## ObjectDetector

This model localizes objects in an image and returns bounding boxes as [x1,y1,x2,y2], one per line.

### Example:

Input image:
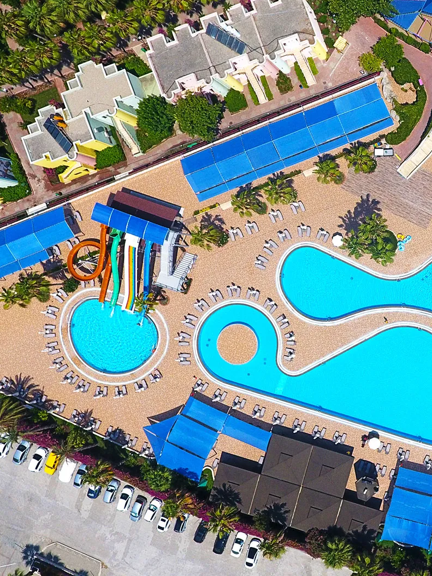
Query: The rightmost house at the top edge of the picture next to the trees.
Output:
[144,0,326,105]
